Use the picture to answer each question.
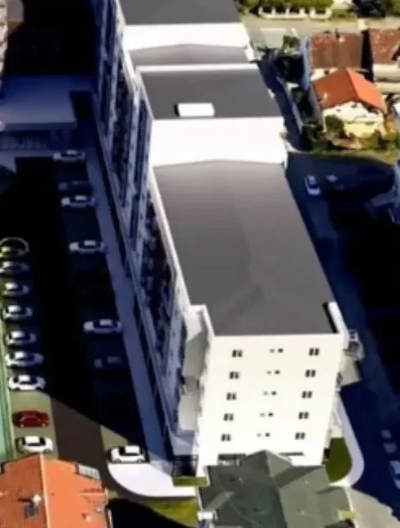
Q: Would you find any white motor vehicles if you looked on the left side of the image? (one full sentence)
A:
Yes, looking on the left side of the image, one can make out a white motor vehicle.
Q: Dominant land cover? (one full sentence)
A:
What you mostly see from above here is buildings.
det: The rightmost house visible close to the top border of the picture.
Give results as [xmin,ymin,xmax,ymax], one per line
[360,26,400,92]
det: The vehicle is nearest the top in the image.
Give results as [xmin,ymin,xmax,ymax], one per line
[53,149,84,161]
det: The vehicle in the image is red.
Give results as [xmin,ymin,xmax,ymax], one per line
[13,409,51,425]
